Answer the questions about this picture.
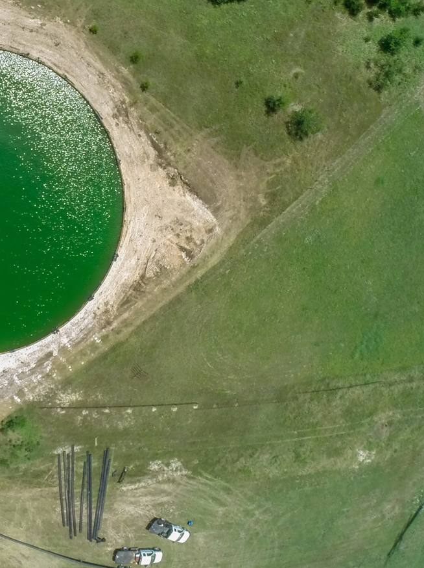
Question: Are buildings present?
No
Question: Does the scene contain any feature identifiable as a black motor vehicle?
No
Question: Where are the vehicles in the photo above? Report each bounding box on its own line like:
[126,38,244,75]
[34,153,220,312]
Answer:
[114,546,161,568]
[146,515,190,543]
